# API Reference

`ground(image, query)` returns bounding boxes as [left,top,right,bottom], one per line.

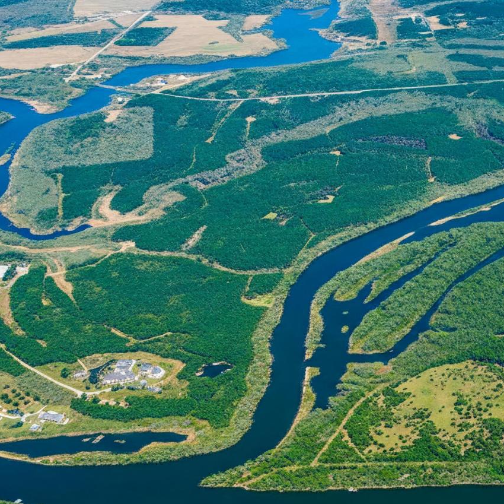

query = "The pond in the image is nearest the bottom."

[0,431,186,457]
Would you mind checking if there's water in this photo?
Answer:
Yes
